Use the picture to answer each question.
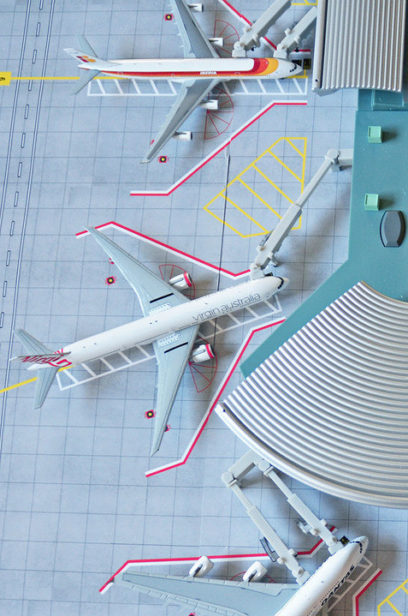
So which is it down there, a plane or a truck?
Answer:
plane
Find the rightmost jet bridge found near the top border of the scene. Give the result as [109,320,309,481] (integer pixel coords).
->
[273,2,318,63]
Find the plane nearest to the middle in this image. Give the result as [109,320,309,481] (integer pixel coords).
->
[9,225,290,454]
